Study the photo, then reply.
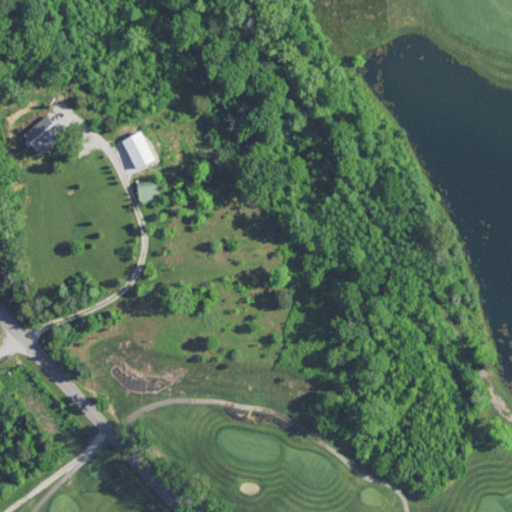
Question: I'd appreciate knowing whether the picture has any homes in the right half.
No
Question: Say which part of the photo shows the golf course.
bottom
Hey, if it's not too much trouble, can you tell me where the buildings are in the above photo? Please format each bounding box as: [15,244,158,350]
[22,114,56,152]
[122,132,155,169]
[137,182,158,203]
